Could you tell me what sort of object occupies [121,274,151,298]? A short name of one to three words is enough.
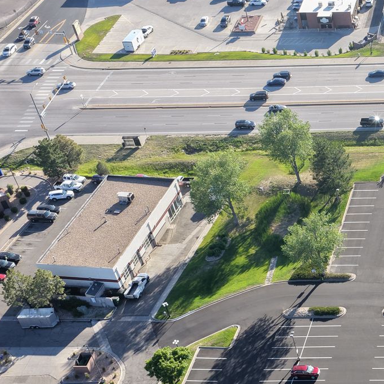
truck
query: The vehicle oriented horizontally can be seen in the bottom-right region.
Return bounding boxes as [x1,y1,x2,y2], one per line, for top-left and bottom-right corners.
[289,365,320,378]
